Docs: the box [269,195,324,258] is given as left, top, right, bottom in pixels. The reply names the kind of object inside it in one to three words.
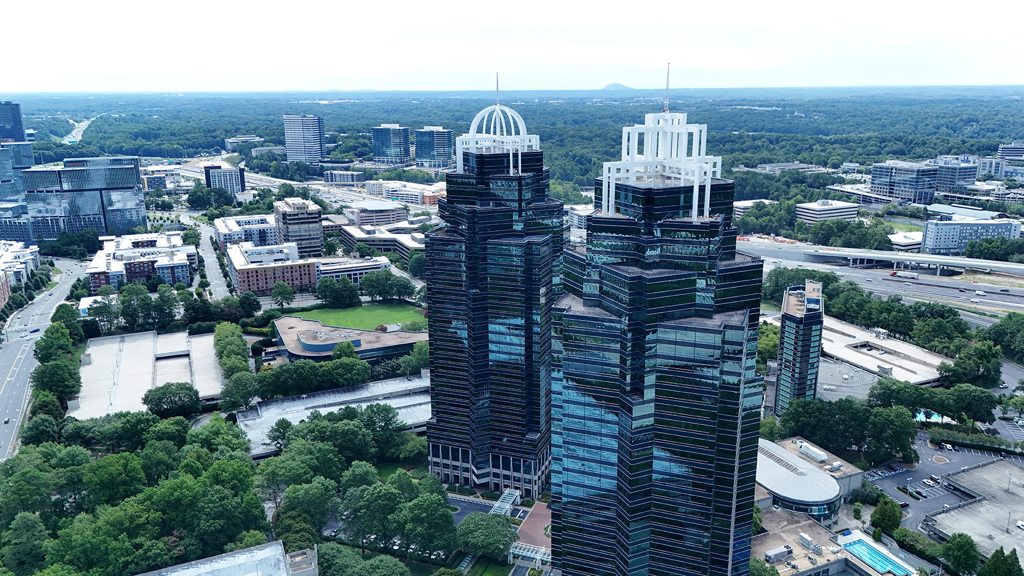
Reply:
building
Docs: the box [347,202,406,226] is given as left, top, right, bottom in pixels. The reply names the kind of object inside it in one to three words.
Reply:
building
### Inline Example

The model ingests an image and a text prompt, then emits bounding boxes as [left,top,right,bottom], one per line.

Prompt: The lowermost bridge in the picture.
[736,241,1024,281]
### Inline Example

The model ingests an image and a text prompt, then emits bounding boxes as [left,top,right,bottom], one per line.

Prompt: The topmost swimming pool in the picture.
[917,411,943,423]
